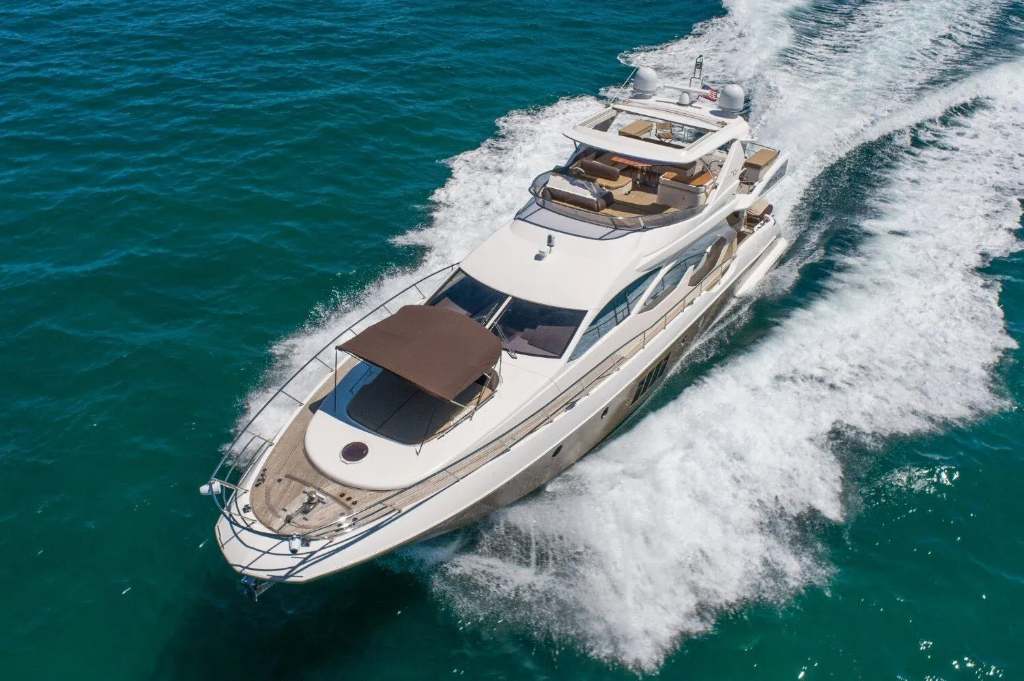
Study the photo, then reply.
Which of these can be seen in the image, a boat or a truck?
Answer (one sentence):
The one in the frame is a boat.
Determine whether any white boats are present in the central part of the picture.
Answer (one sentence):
Yes, in the central part of the picture there is a white boat.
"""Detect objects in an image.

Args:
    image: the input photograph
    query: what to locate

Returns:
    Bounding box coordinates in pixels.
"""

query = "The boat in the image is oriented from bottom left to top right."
[190,54,794,605]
